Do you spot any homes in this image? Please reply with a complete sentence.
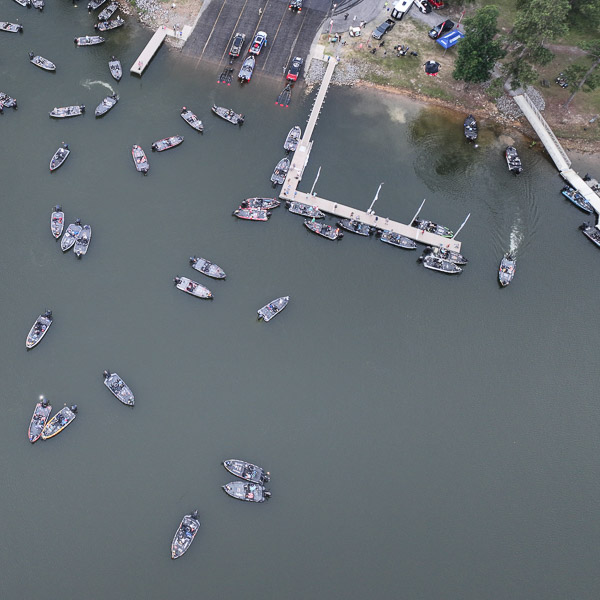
No, no home is visible in the scene.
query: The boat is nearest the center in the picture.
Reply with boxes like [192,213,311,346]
[258,296,290,323]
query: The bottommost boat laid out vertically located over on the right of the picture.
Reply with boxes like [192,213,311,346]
[500,254,518,286]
